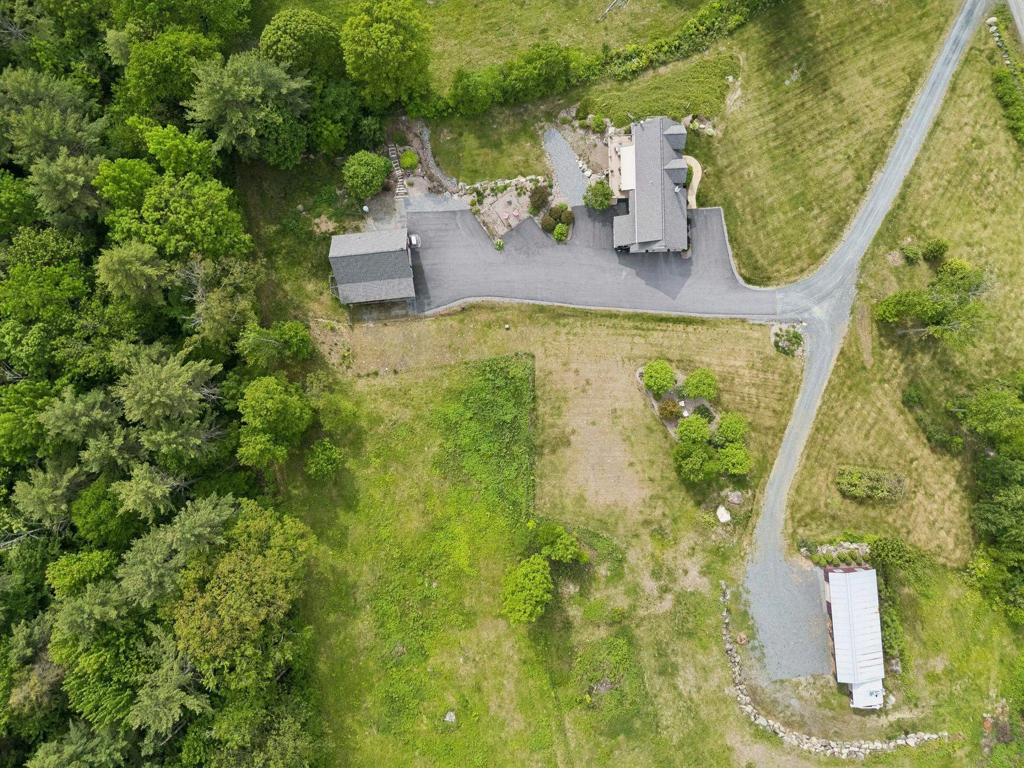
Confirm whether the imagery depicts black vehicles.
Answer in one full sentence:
No, the photo shows no black vehicle.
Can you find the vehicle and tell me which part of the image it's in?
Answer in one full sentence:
You can find the vehicle in the bottom right area of the picture.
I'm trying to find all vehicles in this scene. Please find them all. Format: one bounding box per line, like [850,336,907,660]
[845,678,885,710]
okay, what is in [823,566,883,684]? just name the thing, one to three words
barn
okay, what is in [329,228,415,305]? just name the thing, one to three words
barn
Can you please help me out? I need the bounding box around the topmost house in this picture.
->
[612,115,692,256]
